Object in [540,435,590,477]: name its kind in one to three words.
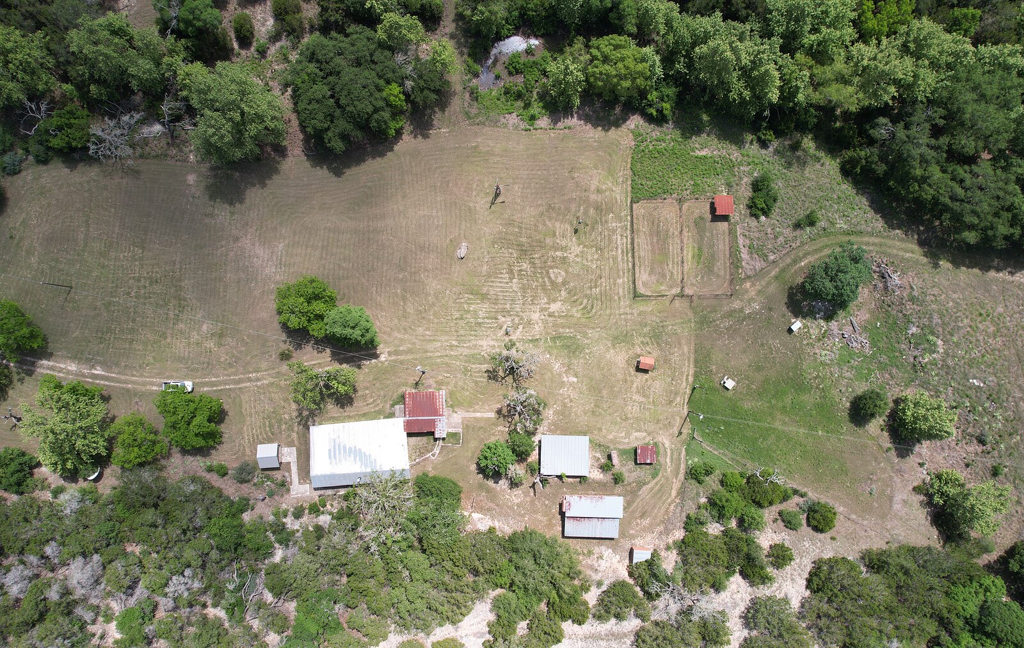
shed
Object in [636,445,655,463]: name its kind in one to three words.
shed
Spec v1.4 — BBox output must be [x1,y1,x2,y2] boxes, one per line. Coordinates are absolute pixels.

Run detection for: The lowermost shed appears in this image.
[630,544,651,566]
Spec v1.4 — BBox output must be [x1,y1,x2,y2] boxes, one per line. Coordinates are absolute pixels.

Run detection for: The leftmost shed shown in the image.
[257,443,283,469]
